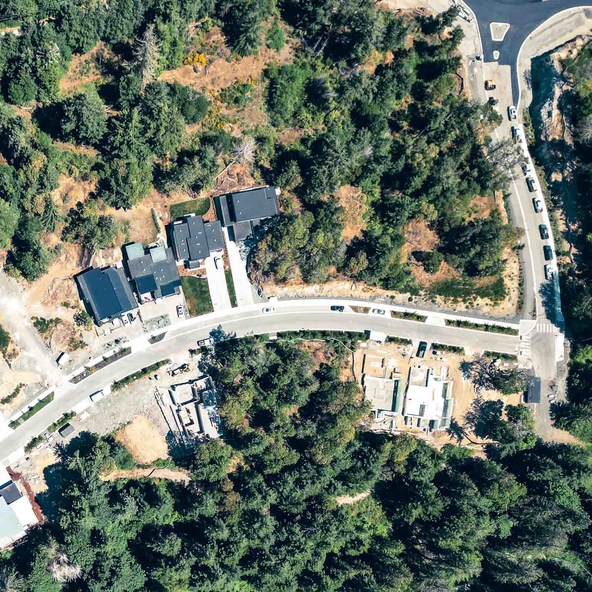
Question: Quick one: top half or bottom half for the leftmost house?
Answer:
bottom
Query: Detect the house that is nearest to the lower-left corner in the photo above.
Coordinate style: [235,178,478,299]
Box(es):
[0,483,38,549]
